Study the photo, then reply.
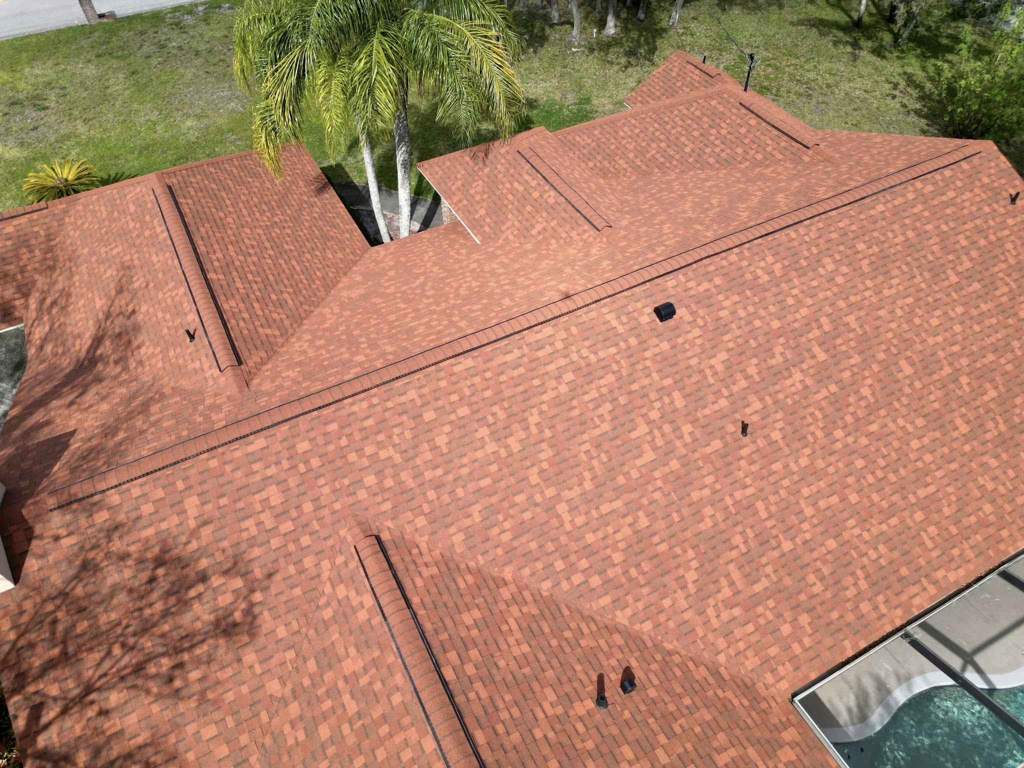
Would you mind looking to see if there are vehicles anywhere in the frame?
No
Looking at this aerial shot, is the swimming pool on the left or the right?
right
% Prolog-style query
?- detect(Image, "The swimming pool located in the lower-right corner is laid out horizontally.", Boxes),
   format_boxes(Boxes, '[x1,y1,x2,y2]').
[822,664,1024,768]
